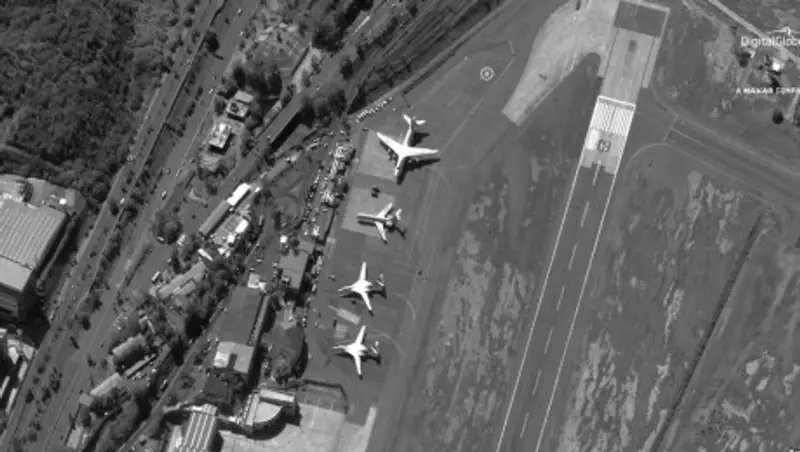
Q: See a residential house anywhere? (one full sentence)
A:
Yes, I can see a residential house in this picture.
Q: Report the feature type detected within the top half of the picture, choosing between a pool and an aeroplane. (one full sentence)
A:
What appears within the top half of the picture is an aeroplane.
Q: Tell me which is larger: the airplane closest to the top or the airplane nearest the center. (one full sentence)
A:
The airplane closest to the top takes up more space than the airplane nearest the center does.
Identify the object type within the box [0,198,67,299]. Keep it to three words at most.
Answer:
hangar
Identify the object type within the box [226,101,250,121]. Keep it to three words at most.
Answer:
house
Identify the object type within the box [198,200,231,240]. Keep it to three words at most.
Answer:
building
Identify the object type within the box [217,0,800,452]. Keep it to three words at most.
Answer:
airport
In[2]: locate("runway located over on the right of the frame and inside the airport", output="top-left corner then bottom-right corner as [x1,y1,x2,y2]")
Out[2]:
[495,0,670,452]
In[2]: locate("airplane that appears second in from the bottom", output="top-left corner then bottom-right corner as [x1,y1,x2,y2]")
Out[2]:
[339,262,385,311]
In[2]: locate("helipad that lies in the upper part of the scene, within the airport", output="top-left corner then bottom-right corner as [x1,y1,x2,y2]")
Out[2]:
[479,65,495,81]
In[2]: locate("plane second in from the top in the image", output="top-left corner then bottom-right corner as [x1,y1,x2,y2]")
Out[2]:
[357,205,402,241]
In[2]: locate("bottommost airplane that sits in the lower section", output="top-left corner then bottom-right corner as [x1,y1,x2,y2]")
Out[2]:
[333,326,379,374]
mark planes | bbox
[357,205,402,241]
[339,262,385,311]
[333,326,379,374]
[376,106,438,177]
